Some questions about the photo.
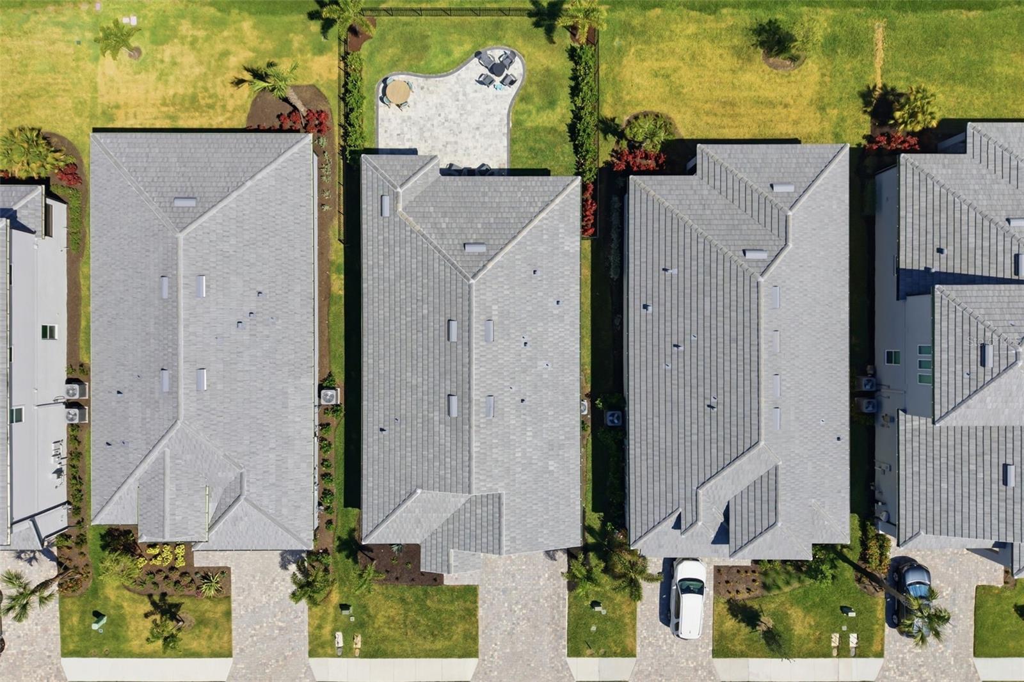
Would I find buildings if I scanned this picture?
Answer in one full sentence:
Yes, I can see a building in this picture.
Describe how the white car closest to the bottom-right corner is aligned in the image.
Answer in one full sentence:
In this picture, the white car closest to the bottom-right corner lies from top to bottom.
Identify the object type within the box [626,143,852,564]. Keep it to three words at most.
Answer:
house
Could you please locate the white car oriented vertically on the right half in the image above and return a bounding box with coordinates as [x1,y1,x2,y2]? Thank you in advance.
[667,556,709,640]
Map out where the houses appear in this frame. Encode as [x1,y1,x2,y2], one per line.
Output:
[359,153,583,576]
[871,121,1024,581]
[0,183,69,549]
[88,131,319,552]
[626,143,852,564]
